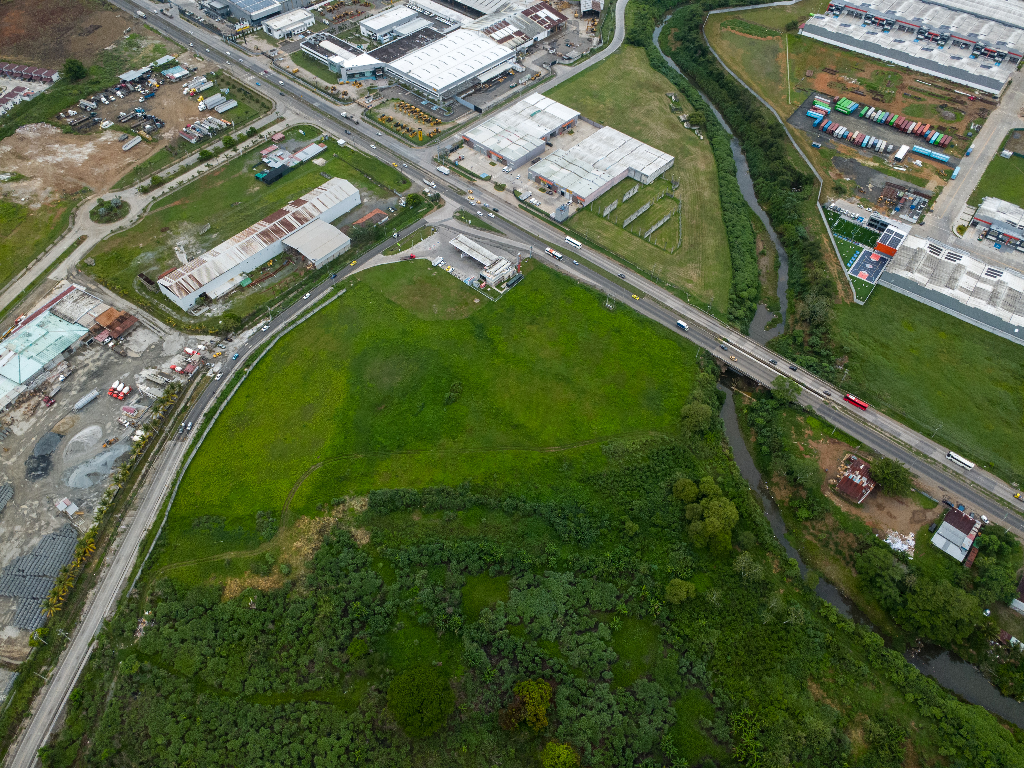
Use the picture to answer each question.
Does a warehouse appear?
Yes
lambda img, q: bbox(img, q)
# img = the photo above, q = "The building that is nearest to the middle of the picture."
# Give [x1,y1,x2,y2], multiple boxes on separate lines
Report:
[480,256,517,290]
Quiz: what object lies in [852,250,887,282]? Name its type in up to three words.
sports court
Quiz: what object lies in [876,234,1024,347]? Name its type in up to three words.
warehouse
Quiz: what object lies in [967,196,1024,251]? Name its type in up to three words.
building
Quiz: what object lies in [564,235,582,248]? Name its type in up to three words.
vehicle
